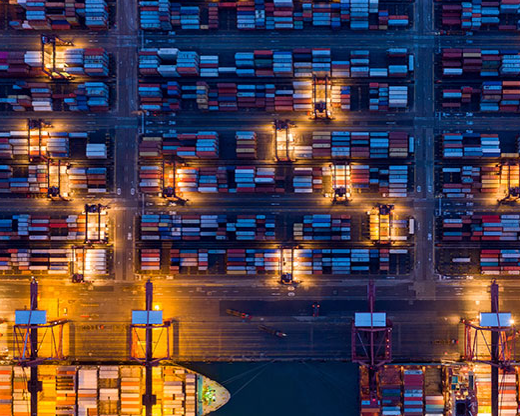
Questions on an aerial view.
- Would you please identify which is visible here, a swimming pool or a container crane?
container crane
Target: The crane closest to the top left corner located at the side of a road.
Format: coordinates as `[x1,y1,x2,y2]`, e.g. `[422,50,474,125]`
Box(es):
[40,35,67,79]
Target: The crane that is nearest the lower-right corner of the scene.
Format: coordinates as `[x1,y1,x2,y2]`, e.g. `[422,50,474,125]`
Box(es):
[462,280,516,416]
